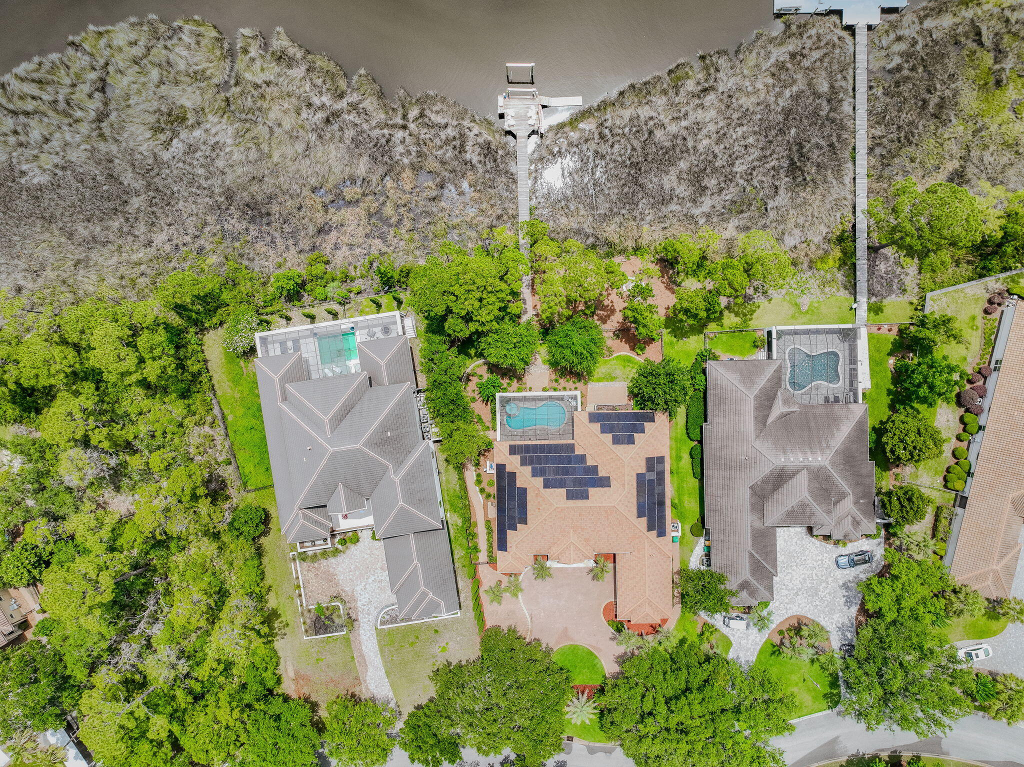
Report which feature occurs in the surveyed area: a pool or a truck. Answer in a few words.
pool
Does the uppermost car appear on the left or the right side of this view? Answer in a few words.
right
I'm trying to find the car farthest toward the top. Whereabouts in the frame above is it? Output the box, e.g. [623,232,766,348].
[833,549,872,570]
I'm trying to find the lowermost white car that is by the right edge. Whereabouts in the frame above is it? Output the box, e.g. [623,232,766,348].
[956,641,994,663]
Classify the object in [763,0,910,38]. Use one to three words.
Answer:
pier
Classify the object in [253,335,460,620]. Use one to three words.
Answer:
house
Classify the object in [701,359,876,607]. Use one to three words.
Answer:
house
